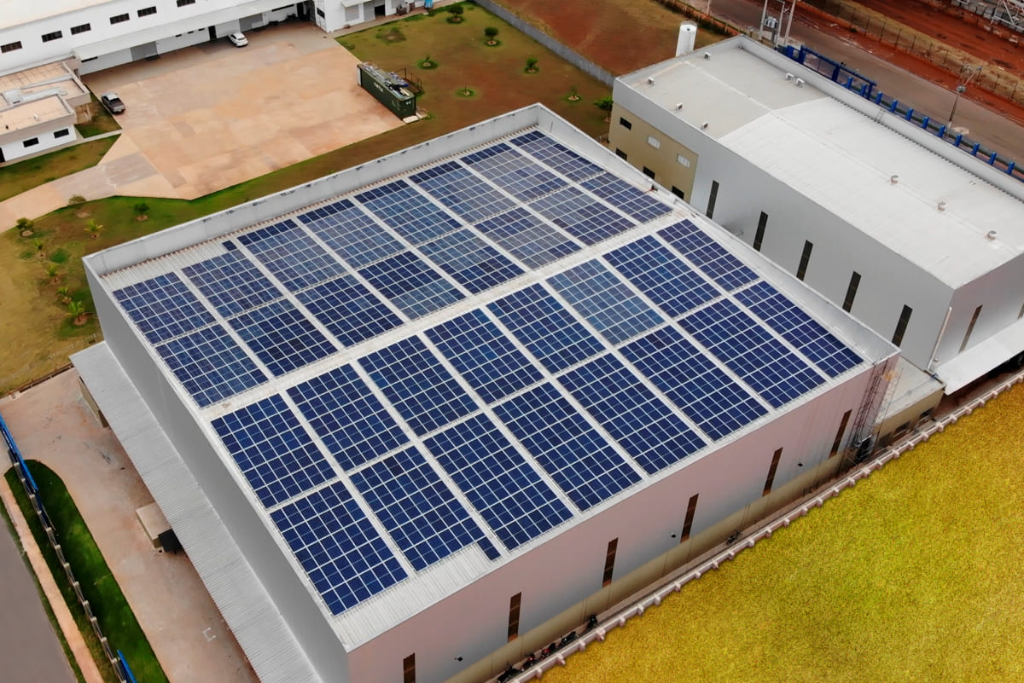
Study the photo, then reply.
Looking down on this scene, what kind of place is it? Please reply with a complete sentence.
The picture captures an industrial area.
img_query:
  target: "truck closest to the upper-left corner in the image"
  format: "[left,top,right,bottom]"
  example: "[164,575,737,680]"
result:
[96,90,126,112]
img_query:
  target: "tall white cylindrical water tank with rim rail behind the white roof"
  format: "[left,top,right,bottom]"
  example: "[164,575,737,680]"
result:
[674,19,699,57]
